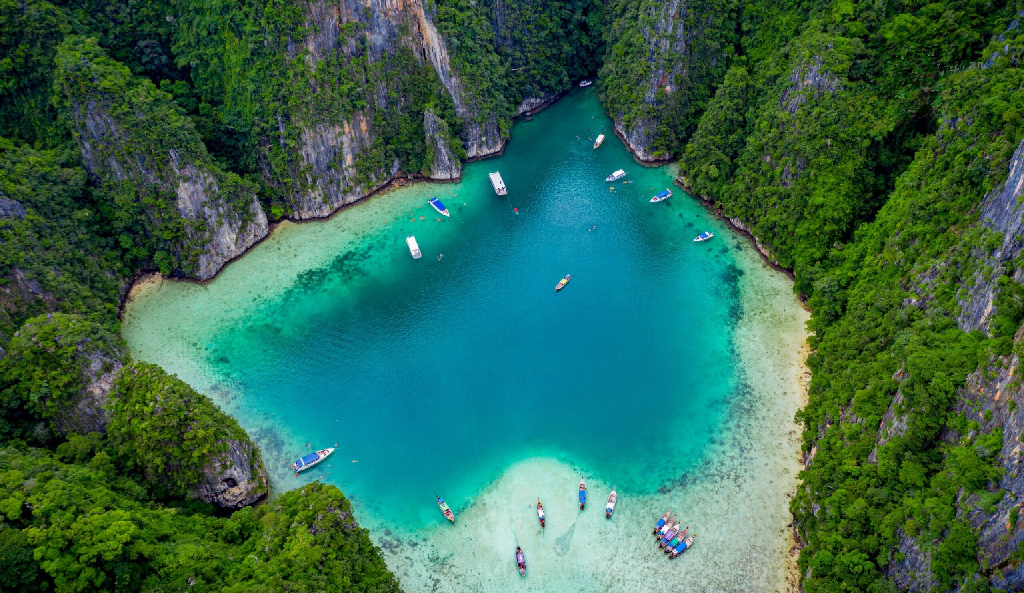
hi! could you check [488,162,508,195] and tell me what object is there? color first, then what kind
white boat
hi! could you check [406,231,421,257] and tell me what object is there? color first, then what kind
white boat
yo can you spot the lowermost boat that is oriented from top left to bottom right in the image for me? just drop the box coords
[435,495,453,521]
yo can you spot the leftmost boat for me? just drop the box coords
[292,446,334,471]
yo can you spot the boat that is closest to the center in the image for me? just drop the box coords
[555,272,572,289]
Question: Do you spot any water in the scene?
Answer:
Yes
